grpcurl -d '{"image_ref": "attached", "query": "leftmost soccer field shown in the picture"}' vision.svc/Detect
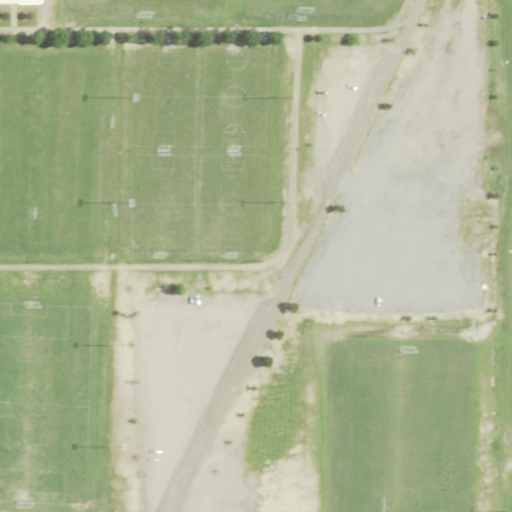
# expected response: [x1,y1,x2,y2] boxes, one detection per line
[0,302,92,508]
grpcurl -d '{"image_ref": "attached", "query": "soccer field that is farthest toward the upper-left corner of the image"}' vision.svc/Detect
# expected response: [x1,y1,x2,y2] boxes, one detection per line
[132,47,202,148]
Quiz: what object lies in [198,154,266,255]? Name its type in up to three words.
soccer field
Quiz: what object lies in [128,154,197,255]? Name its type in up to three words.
soccer field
